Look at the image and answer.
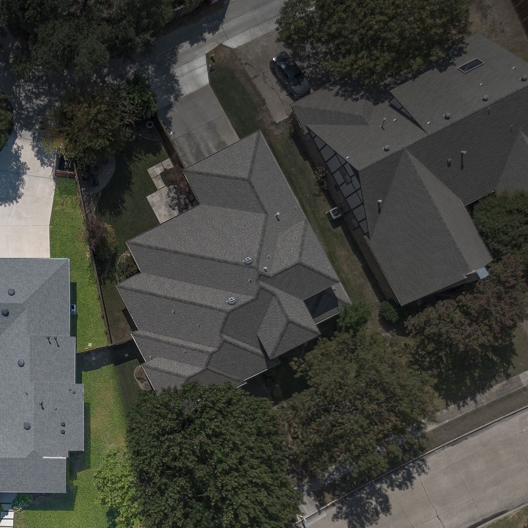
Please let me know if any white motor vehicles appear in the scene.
No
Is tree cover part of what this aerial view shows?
Yes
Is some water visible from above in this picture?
No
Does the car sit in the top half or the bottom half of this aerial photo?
top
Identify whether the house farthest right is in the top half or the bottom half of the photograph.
top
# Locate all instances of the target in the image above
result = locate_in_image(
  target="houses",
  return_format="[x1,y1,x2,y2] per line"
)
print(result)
[0,258,84,493]
[283,33,528,306]
[115,128,352,410]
